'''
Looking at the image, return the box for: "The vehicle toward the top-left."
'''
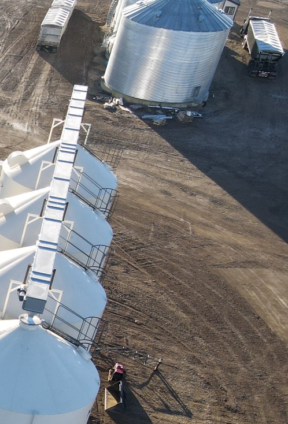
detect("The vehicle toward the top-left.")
[35,0,73,53]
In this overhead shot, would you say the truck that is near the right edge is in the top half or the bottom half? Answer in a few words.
top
